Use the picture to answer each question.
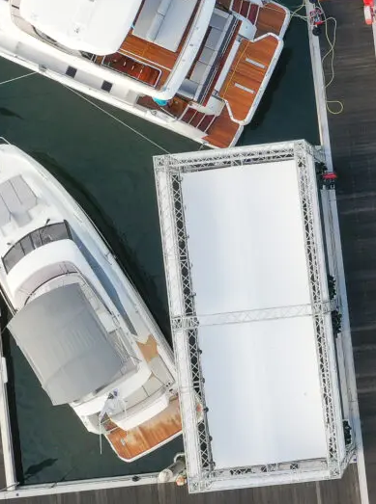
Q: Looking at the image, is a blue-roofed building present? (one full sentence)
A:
No, the frame has no blue-roofed building in it.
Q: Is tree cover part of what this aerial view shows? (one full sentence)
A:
No, the scene doesn't show any tree cover.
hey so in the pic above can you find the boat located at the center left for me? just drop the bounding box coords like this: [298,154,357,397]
[0,136,184,461]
